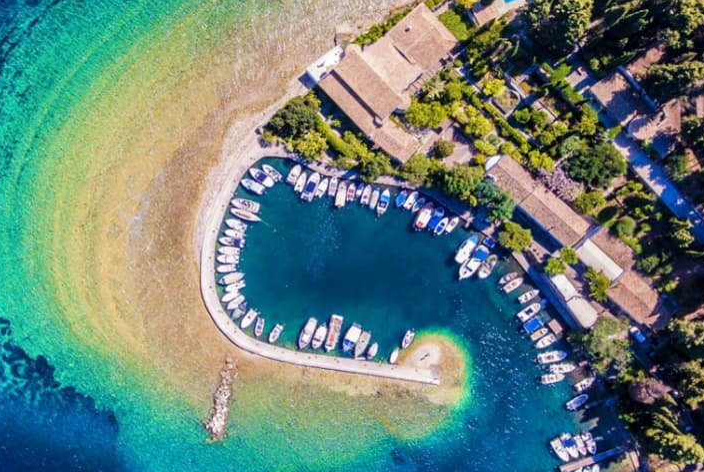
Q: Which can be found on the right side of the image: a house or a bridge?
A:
house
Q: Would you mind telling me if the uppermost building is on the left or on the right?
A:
right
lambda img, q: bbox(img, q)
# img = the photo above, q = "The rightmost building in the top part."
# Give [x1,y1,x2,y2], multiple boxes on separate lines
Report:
[626,102,682,159]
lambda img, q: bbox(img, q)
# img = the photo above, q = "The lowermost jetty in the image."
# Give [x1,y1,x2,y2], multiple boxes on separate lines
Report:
[559,443,625,472]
